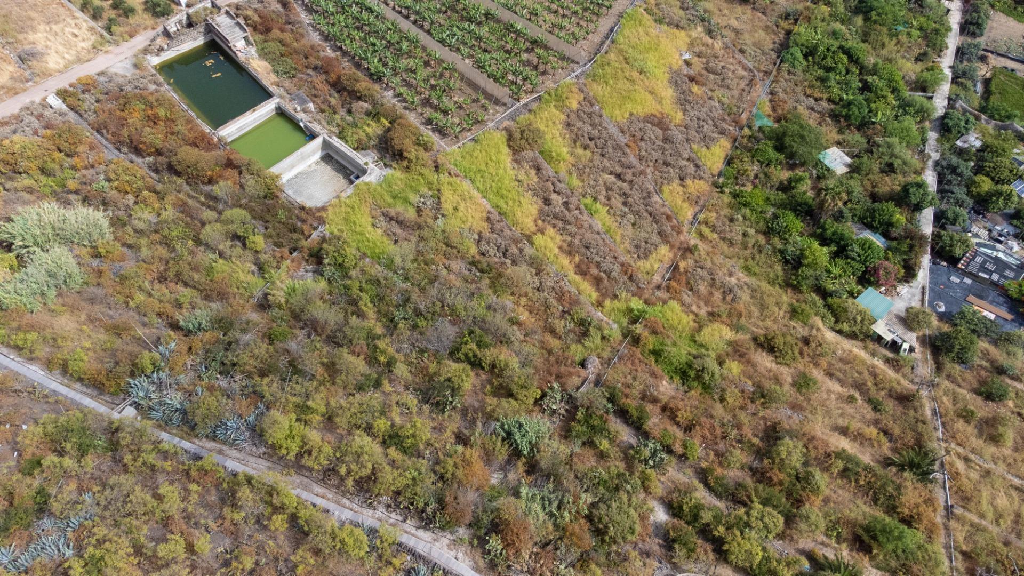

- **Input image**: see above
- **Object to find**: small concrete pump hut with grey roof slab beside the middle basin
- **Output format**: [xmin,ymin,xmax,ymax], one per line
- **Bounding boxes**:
[288,91,318,121]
